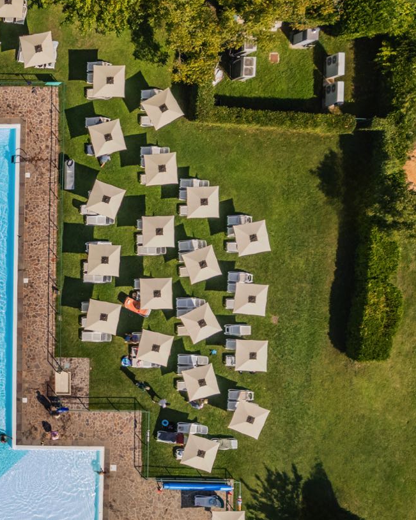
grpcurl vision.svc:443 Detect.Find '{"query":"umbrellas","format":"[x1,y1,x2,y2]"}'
[230,219,267,256]
[225,398,267,439]
[229,280,266,315]
[135,328,173,367]
[180,362,218,401]
[86,120,122,156]
[19,31,55,68]
[141,152,176,187]
[180,243,221,284]
[209,510,243,520]
[84,180,125,220]
[138,278,170,310]
[139,214,173,247]
[229,339,266,371]
[179,431,218,471]
[84,297,121,334]
[177,301,221,344]
[85,242,119,276]
[140,87,182,131]
[183,186,217,219]
[89,65,121,97]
